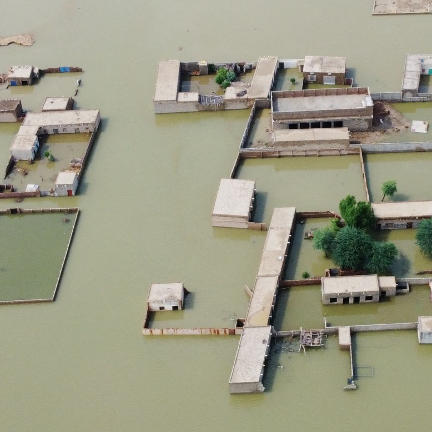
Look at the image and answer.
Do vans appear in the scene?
No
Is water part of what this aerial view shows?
Yes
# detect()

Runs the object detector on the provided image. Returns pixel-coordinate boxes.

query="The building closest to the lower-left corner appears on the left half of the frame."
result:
[148,282,184,311]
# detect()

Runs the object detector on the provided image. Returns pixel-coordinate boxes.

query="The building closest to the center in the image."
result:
[211,179,257,228]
